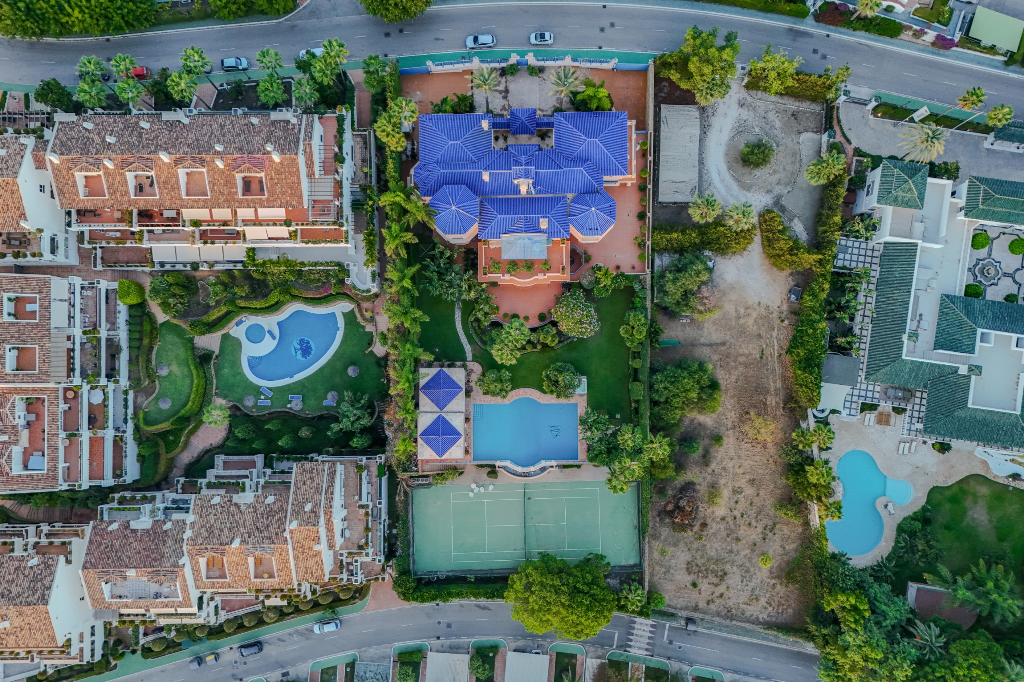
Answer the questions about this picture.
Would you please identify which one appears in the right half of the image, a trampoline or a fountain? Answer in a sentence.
The one visible in the right half of the image is a fountain.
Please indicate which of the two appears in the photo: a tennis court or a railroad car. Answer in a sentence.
There is a tennis court in the scene.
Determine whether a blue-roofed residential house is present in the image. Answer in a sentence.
Yes, the picture does show a blue-roofed residential house.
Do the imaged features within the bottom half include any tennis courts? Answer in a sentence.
Yes, I can see a tennis court within the bottom half.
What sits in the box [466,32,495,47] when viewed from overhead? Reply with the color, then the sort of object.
blue car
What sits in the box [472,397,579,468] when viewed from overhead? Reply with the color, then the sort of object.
blue swimming pool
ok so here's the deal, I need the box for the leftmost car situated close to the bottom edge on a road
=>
[234,642,263,660]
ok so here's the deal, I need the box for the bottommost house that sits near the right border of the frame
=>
[853,159,1024,448]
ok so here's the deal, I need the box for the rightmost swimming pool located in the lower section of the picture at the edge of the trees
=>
[825,449,915,556]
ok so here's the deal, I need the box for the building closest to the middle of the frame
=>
[419,367,465,411]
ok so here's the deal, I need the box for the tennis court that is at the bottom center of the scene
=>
[413,482,640,573]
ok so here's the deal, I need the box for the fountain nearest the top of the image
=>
[973,255,1005,287]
